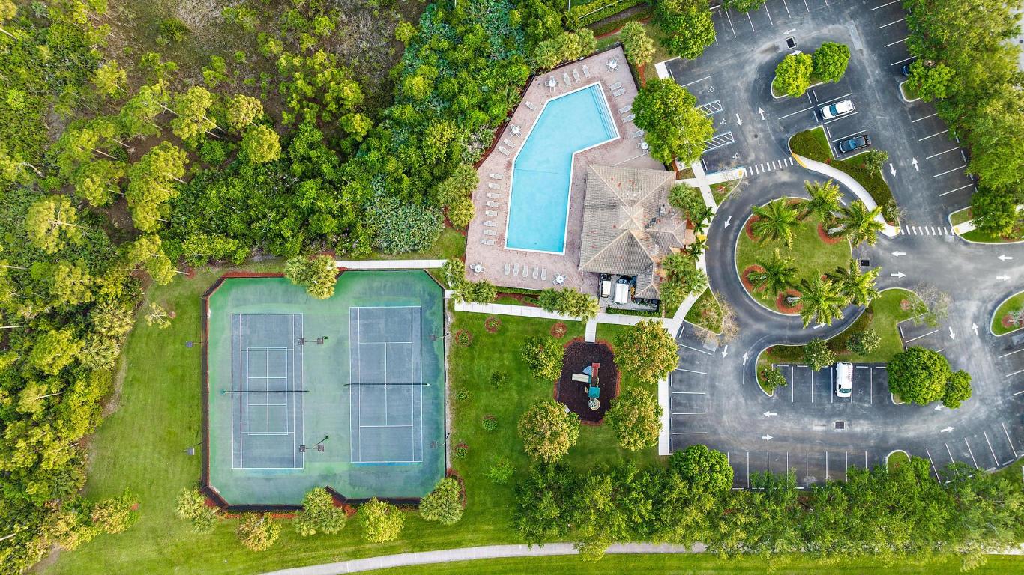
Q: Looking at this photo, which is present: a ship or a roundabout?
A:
roundabout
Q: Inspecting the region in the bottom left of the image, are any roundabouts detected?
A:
No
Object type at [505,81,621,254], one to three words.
swimming pool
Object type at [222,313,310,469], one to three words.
tennis court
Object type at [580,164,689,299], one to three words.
building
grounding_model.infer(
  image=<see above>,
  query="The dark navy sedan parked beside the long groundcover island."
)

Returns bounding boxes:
[840,133,873,152]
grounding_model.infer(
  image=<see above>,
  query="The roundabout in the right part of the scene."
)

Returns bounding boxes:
[709,171,878,341]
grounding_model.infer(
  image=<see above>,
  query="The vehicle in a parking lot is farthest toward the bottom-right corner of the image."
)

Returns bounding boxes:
[833,360,851,395]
